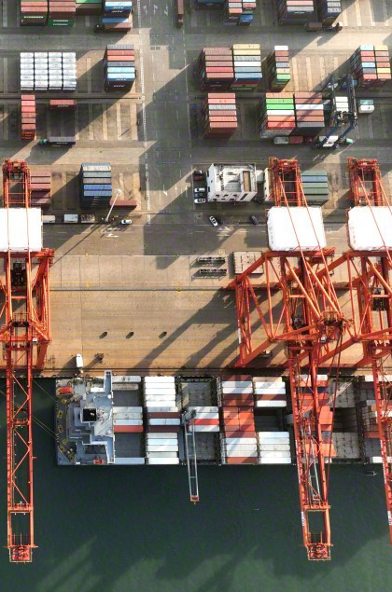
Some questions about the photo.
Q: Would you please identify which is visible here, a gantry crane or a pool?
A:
gantry crane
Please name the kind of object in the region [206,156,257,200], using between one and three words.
building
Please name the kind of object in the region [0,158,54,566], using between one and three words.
container crane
